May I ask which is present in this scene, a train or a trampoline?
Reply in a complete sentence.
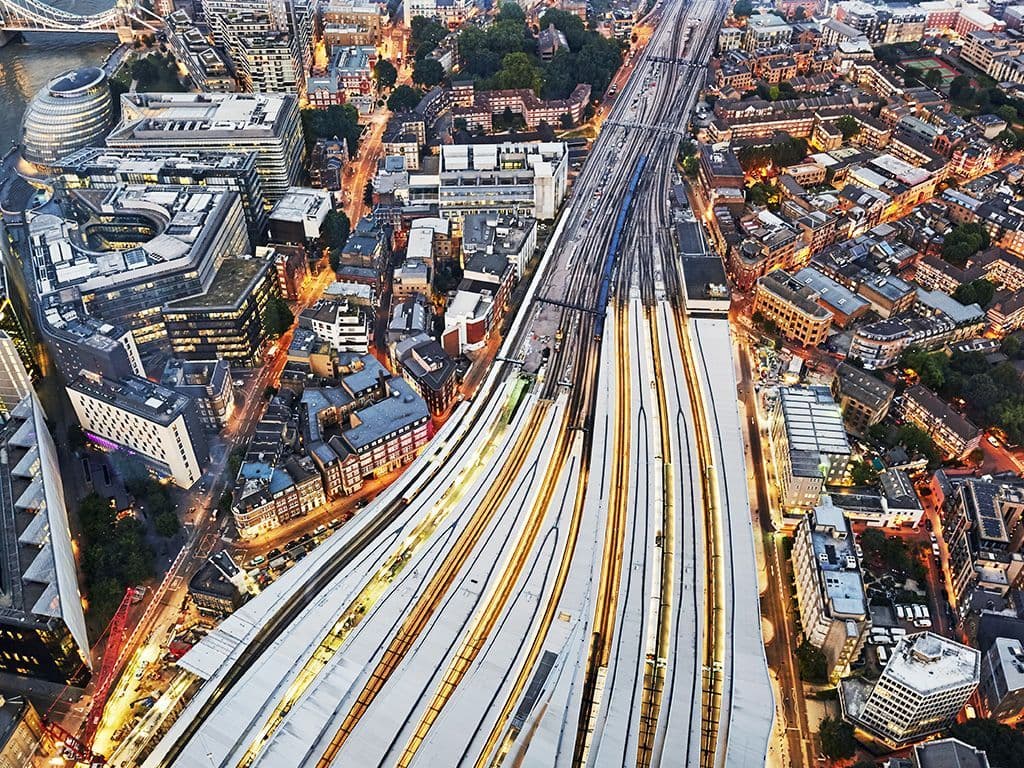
There is a train in the scene.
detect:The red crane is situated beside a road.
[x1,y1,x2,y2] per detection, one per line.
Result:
[37,583,136,768]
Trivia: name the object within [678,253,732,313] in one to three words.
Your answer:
building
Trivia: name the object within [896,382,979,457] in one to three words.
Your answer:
building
